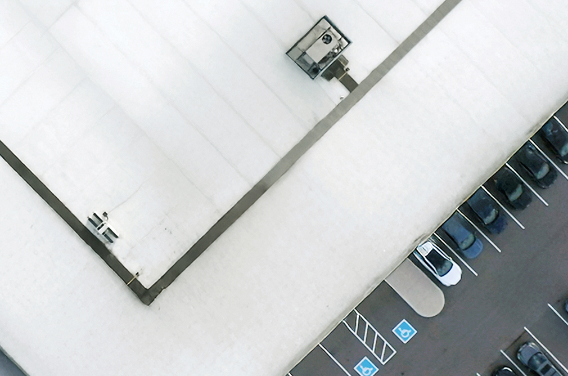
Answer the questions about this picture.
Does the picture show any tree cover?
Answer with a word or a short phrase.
No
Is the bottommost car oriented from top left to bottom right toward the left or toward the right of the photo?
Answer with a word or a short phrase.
right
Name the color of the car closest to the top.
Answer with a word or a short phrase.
black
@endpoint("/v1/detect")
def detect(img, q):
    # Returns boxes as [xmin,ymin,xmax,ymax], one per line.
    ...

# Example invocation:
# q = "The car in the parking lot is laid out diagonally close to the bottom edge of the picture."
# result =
[514,340,567,376]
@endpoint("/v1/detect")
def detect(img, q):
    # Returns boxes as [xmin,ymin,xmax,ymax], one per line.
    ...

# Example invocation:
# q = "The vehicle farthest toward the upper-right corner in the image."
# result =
[532,118,568,164]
